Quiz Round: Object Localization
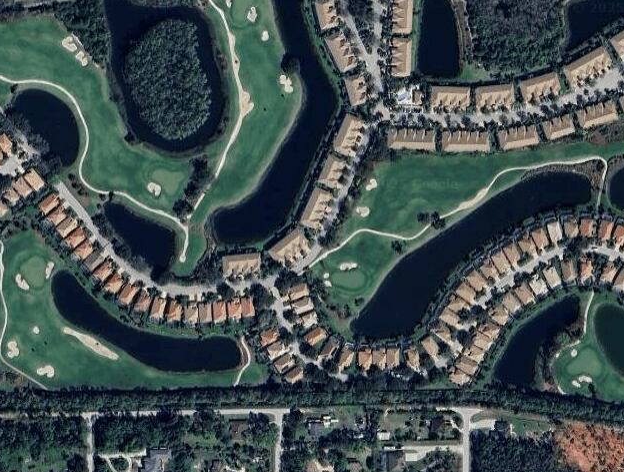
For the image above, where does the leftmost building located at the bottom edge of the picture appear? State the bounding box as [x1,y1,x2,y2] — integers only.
[145,451,171,472]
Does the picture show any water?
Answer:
Yes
